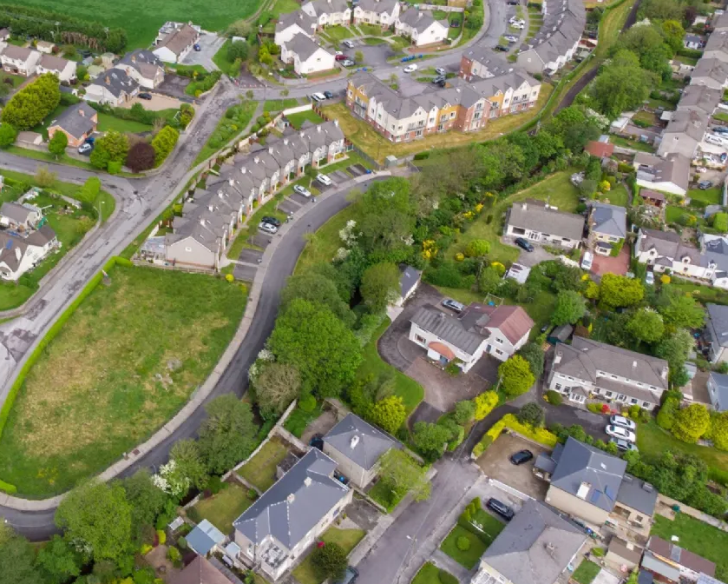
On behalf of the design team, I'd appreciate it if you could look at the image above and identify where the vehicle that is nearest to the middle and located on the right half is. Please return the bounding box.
[443,296,463,312]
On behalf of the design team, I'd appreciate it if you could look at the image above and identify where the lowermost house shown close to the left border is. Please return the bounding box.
[0,221,58,287]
